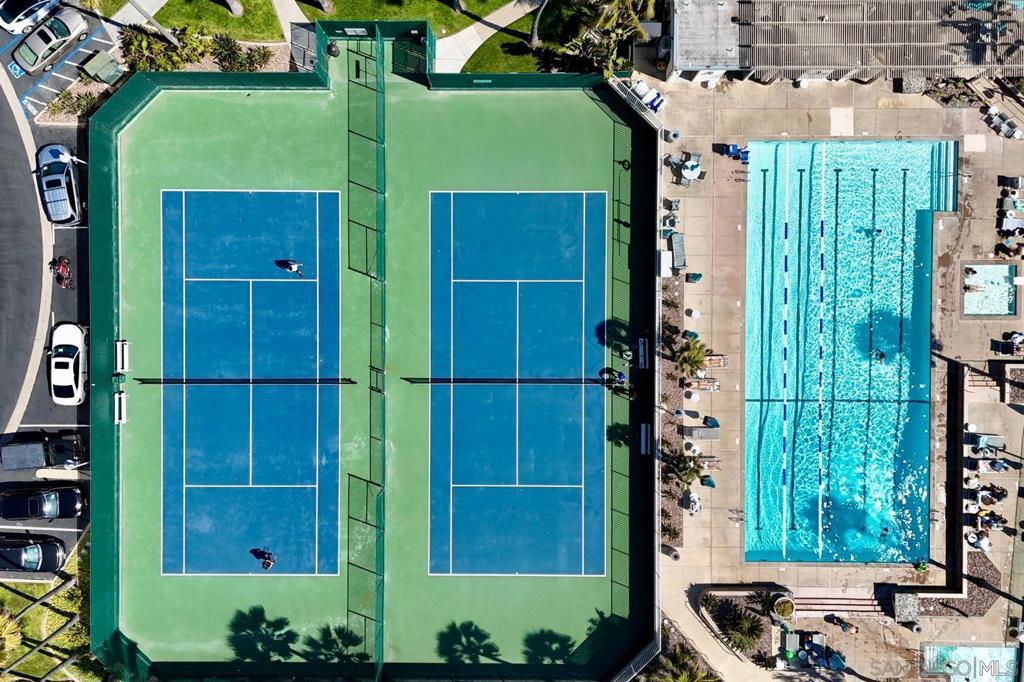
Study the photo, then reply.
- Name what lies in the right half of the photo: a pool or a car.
pool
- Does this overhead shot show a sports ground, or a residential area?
sports ground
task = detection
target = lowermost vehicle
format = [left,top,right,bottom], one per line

[0,538,69,577]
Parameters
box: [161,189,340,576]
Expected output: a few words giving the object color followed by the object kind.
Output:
blue tennis court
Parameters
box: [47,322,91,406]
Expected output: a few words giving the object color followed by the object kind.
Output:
white car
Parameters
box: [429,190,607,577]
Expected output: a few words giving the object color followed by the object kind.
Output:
blue tennis court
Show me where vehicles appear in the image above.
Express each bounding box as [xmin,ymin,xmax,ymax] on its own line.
[0,432,84,469]
[8,11,93,73]
[35,142,86,226]
[0,538,69,577]
[47,322,91,406]
[0,484,87,523]
[51,256,75,289]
